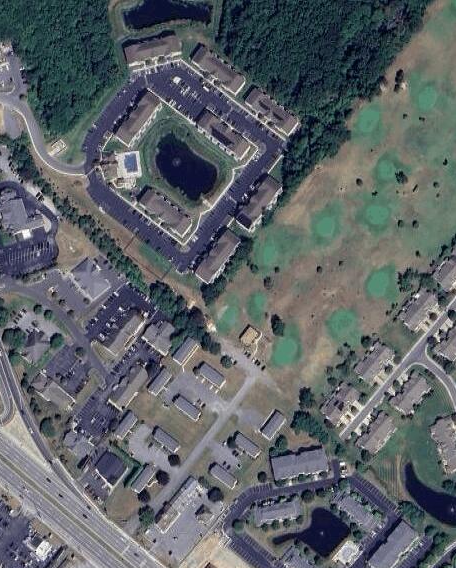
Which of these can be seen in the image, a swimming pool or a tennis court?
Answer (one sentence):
There is a swimming pool in the scene.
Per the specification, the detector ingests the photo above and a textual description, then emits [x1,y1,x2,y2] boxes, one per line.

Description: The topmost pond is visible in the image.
[124,0,215,29]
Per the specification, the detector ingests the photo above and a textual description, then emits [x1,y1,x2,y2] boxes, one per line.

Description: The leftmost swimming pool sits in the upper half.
[113,150,142,188]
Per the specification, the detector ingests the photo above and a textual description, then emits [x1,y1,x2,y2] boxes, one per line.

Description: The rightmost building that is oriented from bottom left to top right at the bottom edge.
[369,521,419,568]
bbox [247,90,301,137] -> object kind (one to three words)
building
